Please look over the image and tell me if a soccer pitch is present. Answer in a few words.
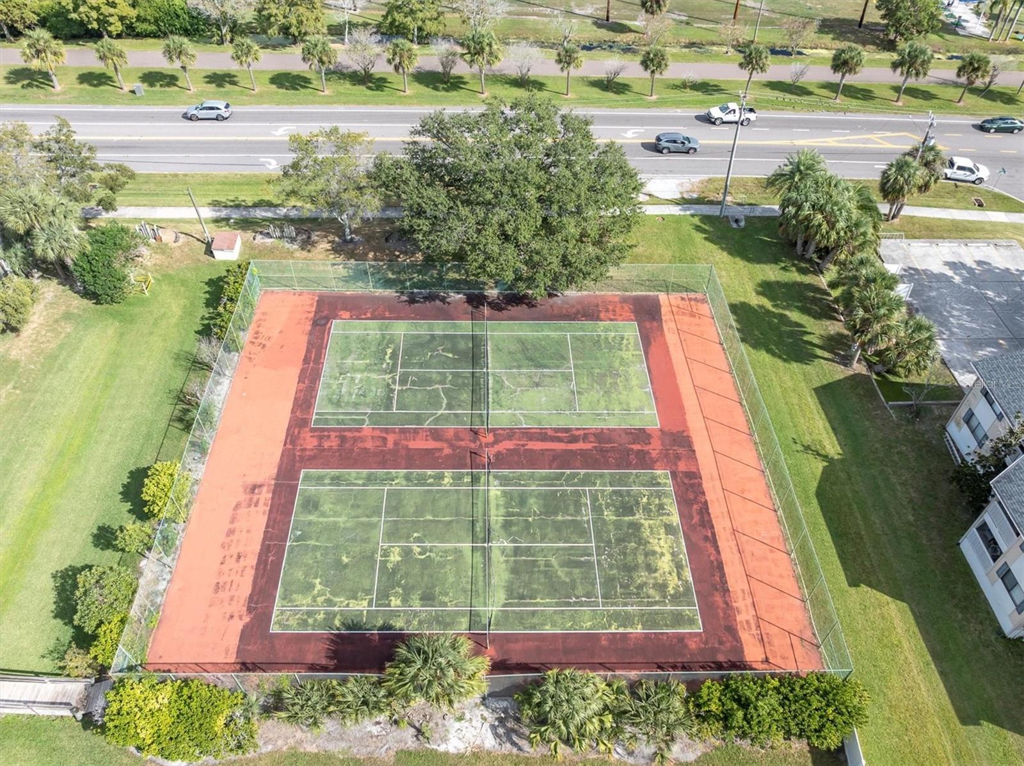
No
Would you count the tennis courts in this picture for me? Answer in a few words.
two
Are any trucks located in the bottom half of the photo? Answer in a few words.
No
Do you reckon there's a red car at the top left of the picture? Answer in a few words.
No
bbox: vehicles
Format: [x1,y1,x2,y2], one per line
[655,131,703,154]
[183,97,233,120]
[979,115,1024,134]
[929,153,988,183]
[704,102,758,126]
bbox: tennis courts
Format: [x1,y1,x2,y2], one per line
[311,319,659,428]
[269,470,702,633]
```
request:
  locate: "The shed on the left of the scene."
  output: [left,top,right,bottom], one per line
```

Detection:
[211,230,241,259]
